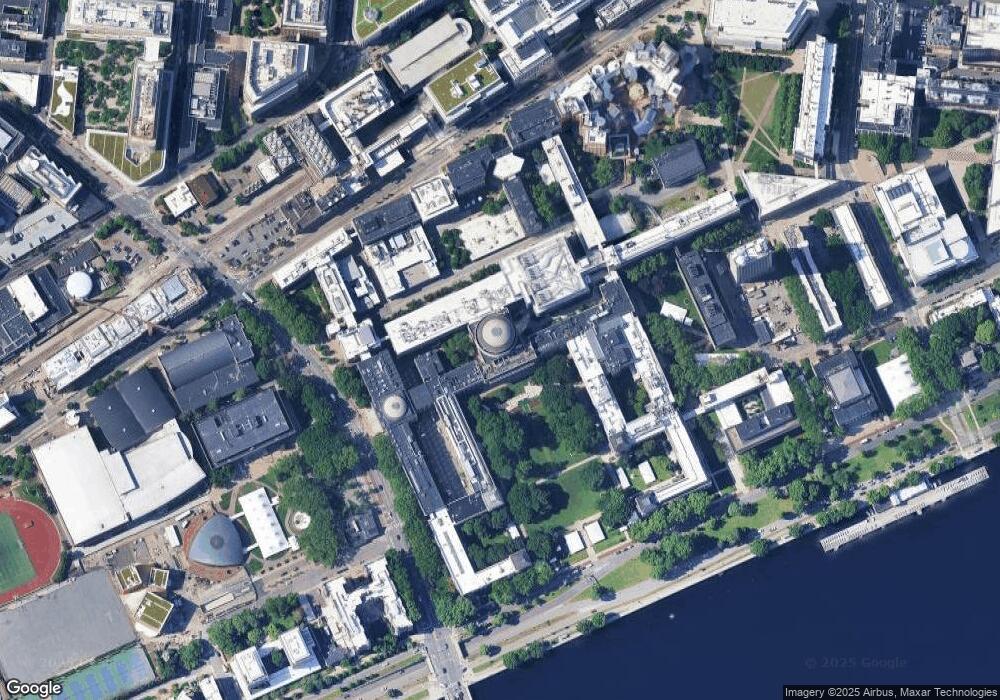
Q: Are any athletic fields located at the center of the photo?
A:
No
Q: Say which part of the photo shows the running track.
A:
bottom left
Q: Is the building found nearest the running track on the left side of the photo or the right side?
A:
left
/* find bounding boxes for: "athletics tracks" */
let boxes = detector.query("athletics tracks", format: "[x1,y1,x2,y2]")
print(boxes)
[0,498,63,610]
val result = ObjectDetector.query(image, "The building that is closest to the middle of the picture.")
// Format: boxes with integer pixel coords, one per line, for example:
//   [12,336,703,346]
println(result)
[468,307,537,392]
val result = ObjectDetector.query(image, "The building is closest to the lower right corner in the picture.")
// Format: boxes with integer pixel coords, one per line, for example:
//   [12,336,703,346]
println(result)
[891,481,929,507]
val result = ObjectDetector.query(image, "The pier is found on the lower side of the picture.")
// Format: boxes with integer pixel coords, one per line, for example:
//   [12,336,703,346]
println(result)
[820,467,989,552]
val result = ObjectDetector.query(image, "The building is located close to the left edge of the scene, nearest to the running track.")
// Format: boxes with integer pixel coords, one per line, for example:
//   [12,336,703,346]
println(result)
[33,426,137,549]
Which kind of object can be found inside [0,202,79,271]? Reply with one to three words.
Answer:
building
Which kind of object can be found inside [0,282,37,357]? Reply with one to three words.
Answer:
building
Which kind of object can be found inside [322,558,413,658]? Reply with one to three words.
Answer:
house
